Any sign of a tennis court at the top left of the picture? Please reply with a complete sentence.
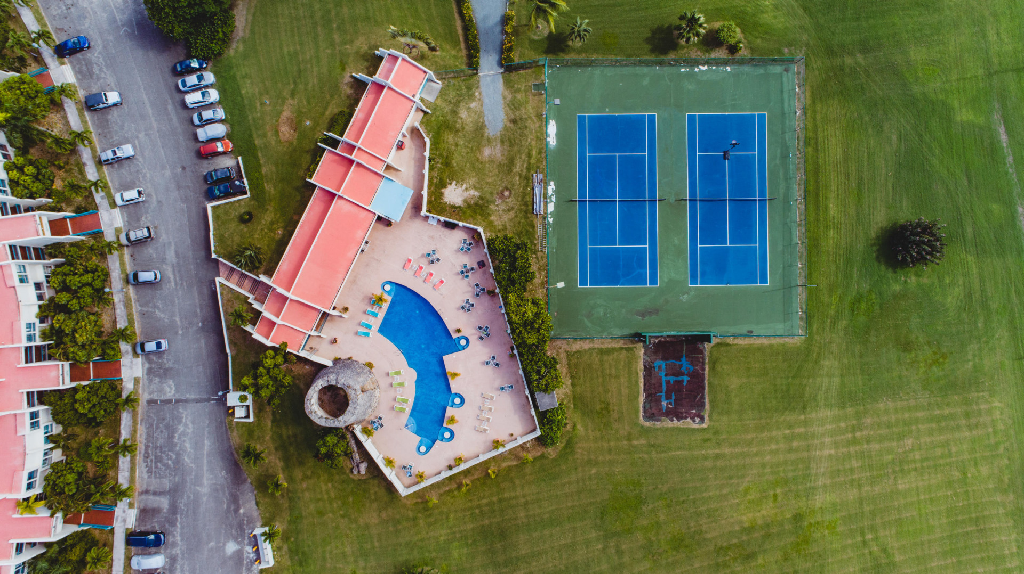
No, no tennis court appears at the top left of the picture.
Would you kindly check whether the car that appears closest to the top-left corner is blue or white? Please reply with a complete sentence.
In this view, the car that appears closest to the top-left corner is blue.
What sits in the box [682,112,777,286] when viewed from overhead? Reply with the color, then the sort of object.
blue tennis court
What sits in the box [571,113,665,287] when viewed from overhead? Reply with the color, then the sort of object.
blue tennis court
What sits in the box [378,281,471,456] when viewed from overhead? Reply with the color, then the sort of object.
blue swimming pool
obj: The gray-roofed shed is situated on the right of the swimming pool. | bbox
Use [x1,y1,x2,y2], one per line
[535,390,559,412]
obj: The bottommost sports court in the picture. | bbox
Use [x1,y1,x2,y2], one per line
[643,341,708,424]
